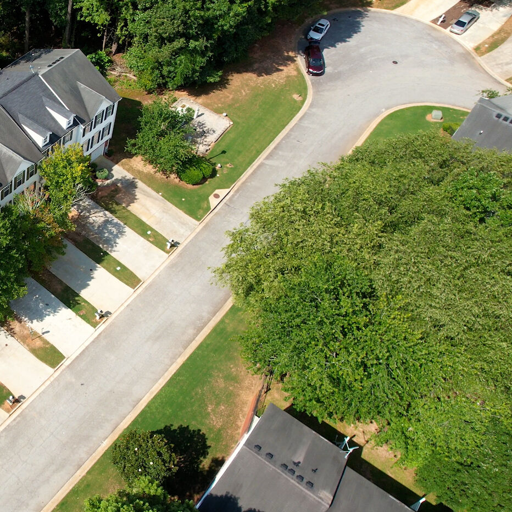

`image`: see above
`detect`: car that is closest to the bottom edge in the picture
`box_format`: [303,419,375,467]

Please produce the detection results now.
[302,37,326,75]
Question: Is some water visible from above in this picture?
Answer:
No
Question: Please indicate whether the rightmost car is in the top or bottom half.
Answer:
top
